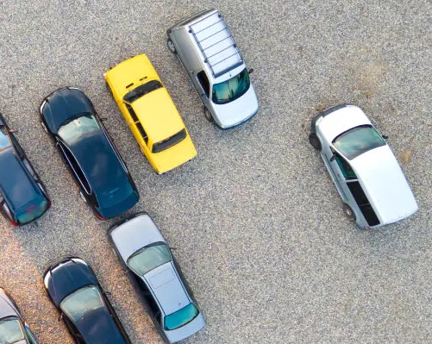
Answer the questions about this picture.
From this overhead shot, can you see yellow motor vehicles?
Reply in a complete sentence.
Yes, the photo shows a yellow motor vehicle.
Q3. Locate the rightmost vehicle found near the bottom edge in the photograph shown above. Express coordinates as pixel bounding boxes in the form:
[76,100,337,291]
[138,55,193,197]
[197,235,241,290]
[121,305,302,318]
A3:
[109,215,207,342]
